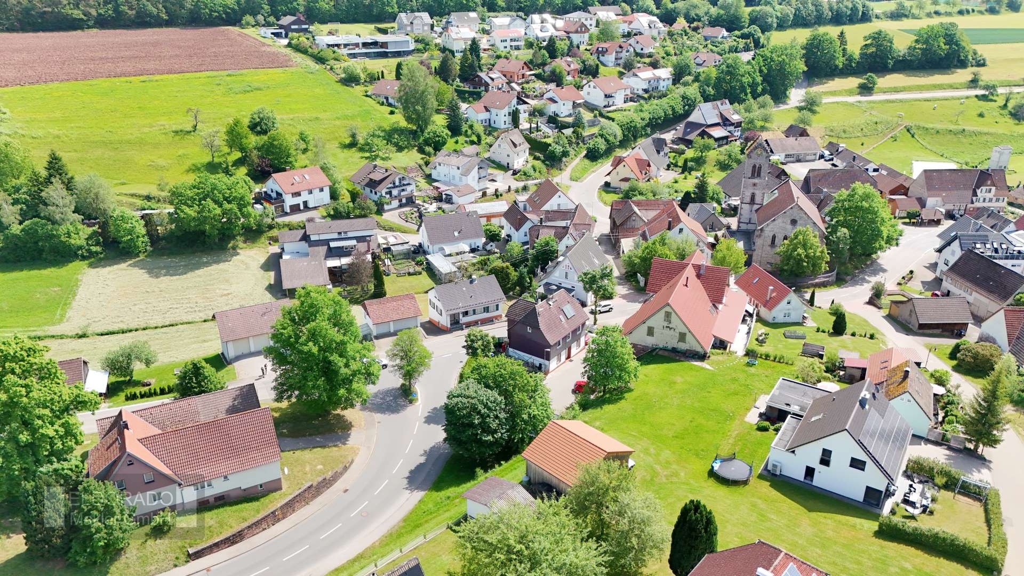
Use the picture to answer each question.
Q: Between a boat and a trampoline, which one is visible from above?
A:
trampoline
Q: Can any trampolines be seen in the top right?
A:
No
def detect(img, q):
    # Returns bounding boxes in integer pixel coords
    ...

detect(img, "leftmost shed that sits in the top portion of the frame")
[138,208,176,225]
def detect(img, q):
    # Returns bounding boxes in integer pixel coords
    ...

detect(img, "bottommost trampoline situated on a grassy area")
[711,447,754,483]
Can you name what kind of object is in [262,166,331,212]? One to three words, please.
house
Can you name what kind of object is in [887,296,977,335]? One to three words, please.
shed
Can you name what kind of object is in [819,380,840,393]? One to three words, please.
umbrella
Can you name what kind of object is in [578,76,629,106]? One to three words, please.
house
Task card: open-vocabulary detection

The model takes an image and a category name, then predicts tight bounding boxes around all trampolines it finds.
[746,348,760,366]
[711,447,754,483]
